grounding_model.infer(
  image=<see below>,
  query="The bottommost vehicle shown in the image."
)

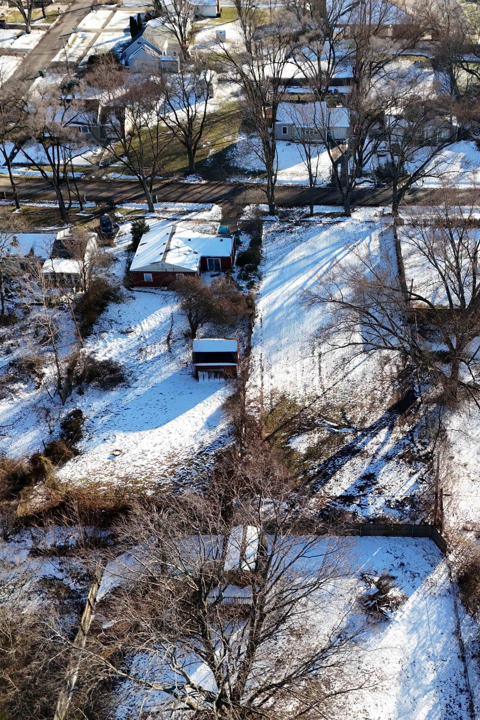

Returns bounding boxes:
[96,217,116,239]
